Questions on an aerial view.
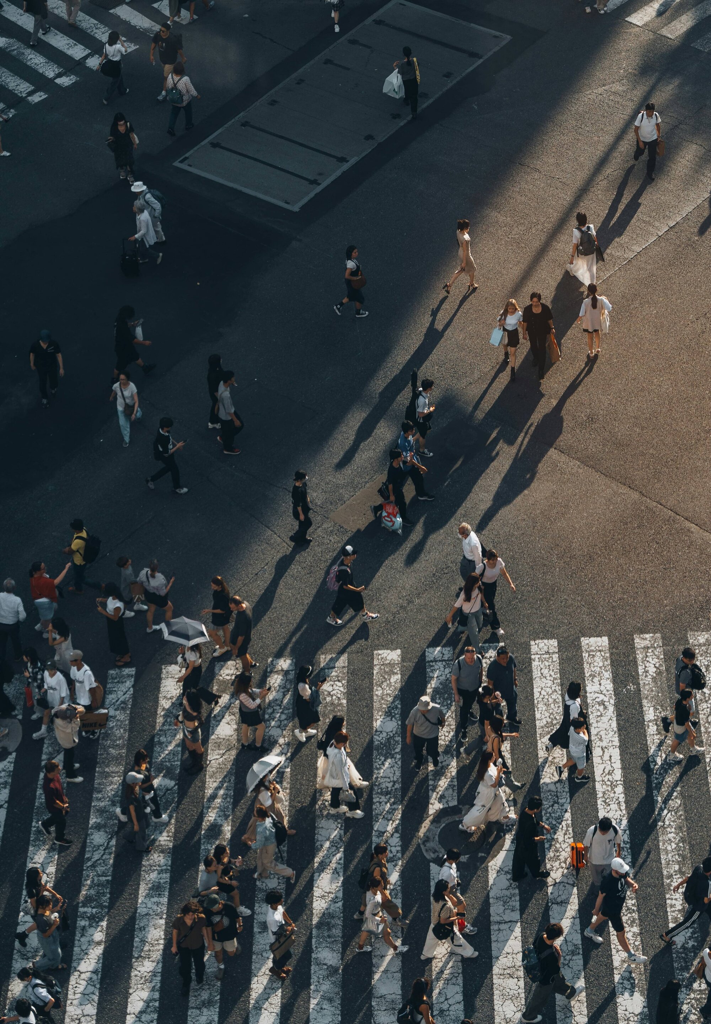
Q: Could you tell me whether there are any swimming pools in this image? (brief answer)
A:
No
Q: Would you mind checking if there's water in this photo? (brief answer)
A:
No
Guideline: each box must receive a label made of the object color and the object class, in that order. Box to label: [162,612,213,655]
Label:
gray umbrella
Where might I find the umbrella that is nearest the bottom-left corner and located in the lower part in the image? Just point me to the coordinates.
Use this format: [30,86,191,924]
[246,756,286,797]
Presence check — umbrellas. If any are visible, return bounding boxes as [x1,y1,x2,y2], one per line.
[162,612,213,655]
[246,756,286,797]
